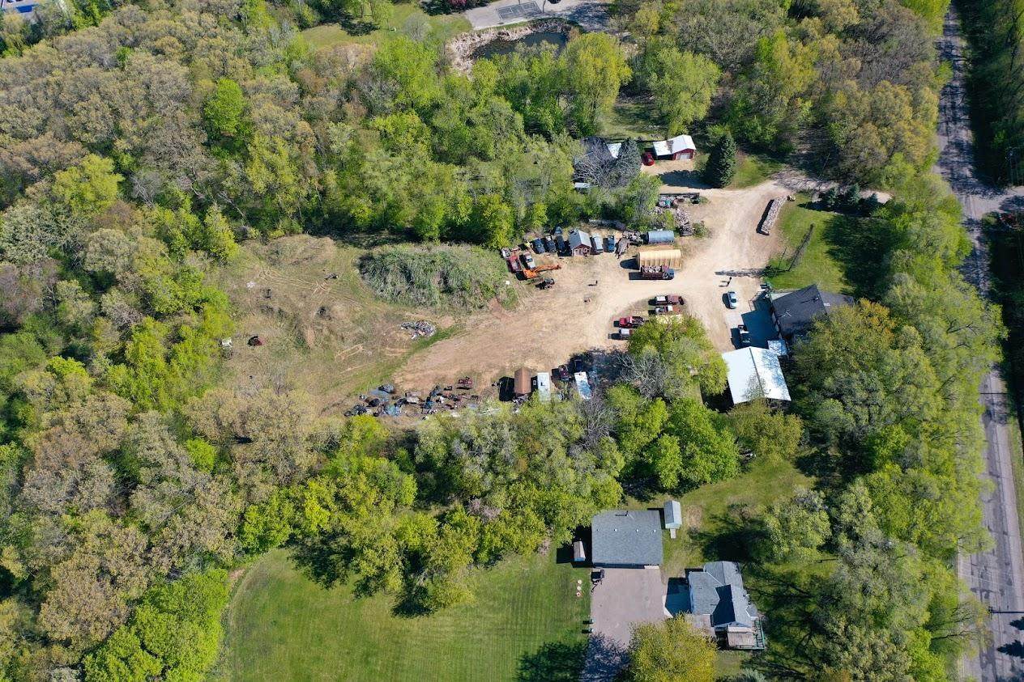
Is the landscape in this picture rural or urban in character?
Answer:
rural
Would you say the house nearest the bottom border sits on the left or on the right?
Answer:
right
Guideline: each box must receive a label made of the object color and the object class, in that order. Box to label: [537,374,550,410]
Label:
white vehicle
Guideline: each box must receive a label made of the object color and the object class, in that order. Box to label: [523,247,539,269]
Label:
white vehicle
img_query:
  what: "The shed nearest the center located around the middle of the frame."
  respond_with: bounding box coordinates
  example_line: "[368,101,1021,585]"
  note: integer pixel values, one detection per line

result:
[514,367,533,398]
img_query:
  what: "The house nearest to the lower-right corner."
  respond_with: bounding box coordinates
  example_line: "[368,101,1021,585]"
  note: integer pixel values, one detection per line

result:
[687,562,758,628]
